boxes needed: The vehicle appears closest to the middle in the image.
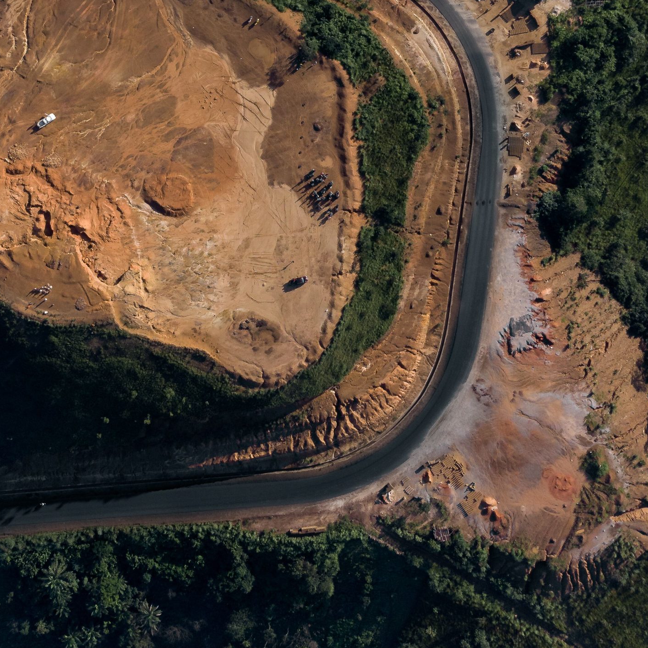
[285,275,309,289]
